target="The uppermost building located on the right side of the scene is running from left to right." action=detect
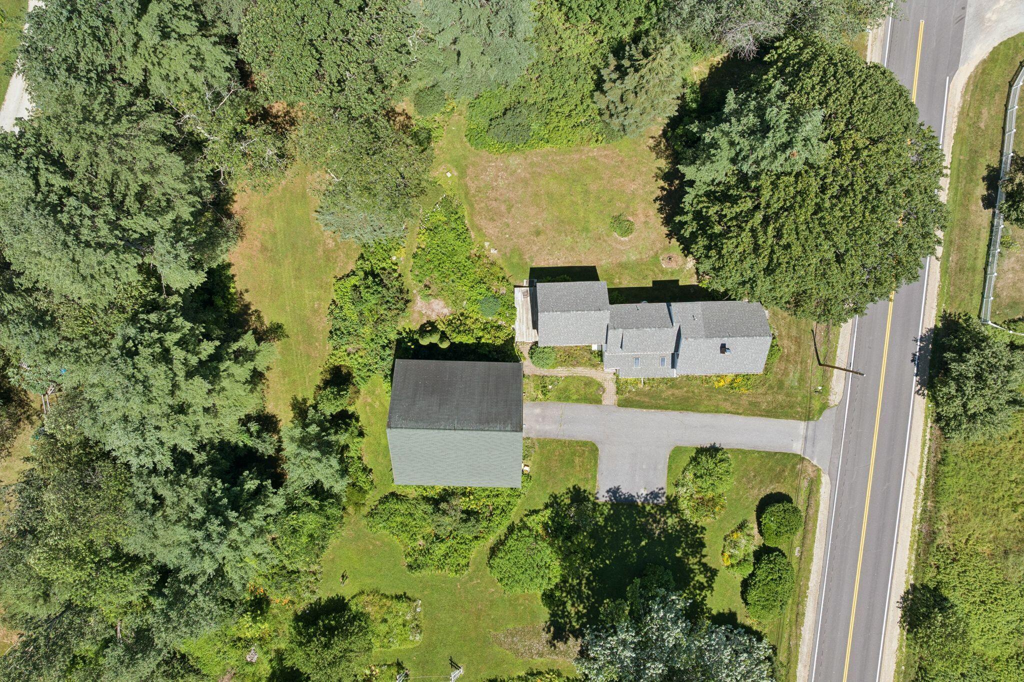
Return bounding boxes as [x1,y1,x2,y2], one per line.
[536,282,773,379]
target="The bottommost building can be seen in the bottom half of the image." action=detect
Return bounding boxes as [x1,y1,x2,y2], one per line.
[387,359,524,488]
